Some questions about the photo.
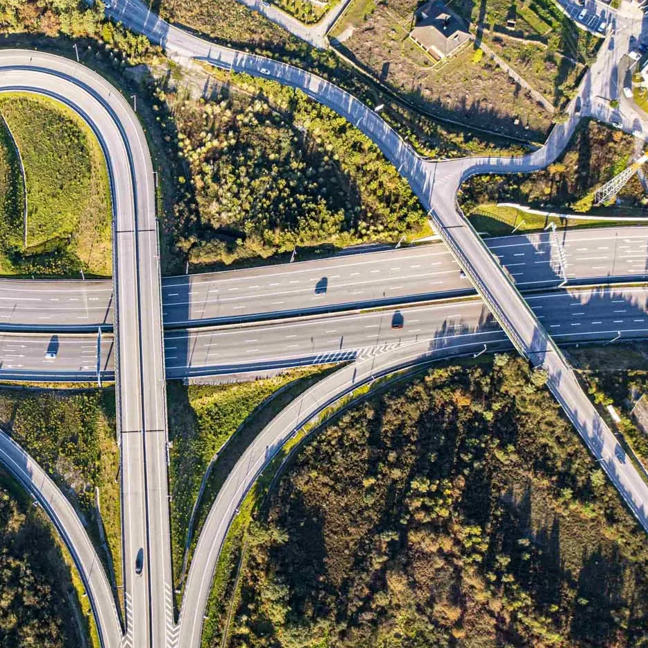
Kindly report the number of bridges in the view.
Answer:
2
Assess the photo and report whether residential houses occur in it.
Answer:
Yes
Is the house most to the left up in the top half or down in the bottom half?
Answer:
top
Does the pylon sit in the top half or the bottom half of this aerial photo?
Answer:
top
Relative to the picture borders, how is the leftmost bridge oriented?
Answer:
up and down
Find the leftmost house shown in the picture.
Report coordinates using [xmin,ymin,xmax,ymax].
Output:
[399,10,479,71]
